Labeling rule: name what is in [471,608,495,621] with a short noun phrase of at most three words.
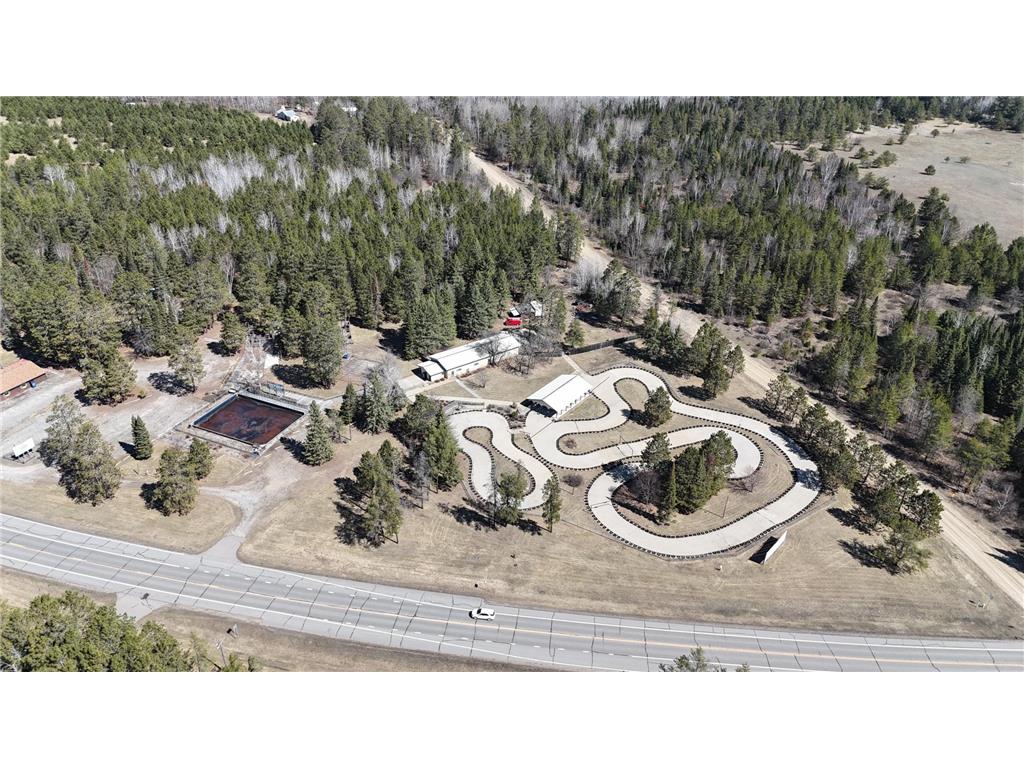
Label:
vehicle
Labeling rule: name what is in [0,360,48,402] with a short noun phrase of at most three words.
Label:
building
